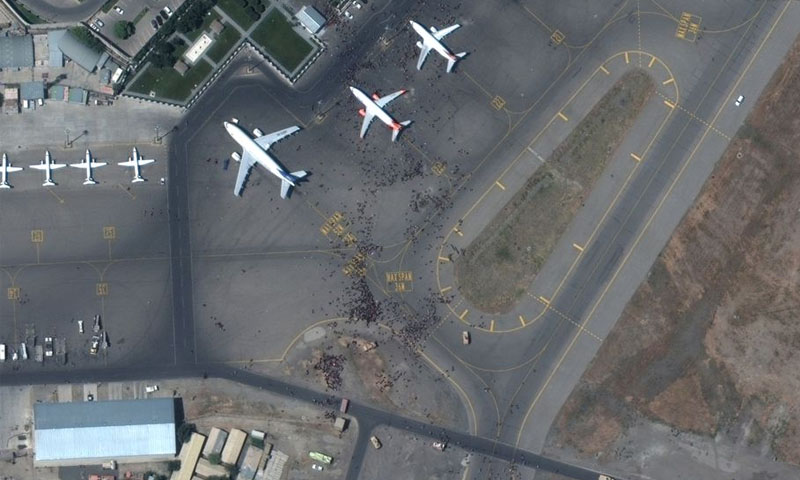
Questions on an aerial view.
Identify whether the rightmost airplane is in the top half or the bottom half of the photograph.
top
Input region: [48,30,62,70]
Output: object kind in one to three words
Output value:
shed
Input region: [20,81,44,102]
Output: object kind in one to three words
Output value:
building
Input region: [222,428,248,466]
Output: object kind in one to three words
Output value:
house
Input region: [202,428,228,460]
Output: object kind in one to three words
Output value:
house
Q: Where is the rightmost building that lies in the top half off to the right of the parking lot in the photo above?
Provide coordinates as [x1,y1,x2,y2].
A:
[299,5,327,35]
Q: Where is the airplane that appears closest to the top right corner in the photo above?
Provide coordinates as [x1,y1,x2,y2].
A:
[409,22,466,69]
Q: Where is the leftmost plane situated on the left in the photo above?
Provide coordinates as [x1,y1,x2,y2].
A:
[0,153,23,185]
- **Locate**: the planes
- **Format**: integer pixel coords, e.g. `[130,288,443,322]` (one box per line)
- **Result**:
[117,149,155,180]
[0,153,23,185]
[350,88,410,138]
[70,150,107,182]
[223,124,308,197]
[409,22,466,69]
[30,152,66,183]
